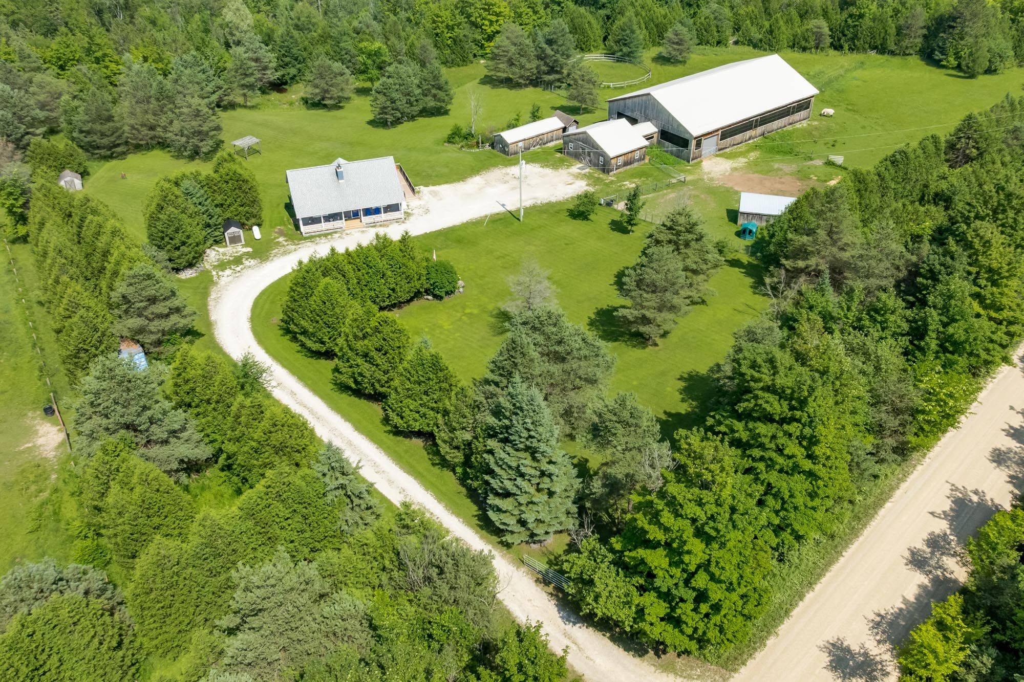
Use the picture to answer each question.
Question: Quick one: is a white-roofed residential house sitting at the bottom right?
No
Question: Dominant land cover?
trees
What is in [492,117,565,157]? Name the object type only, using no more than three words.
shed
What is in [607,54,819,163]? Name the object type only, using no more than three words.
barn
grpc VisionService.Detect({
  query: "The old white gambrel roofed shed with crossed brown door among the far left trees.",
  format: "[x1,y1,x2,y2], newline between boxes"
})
[52,167,84,193]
